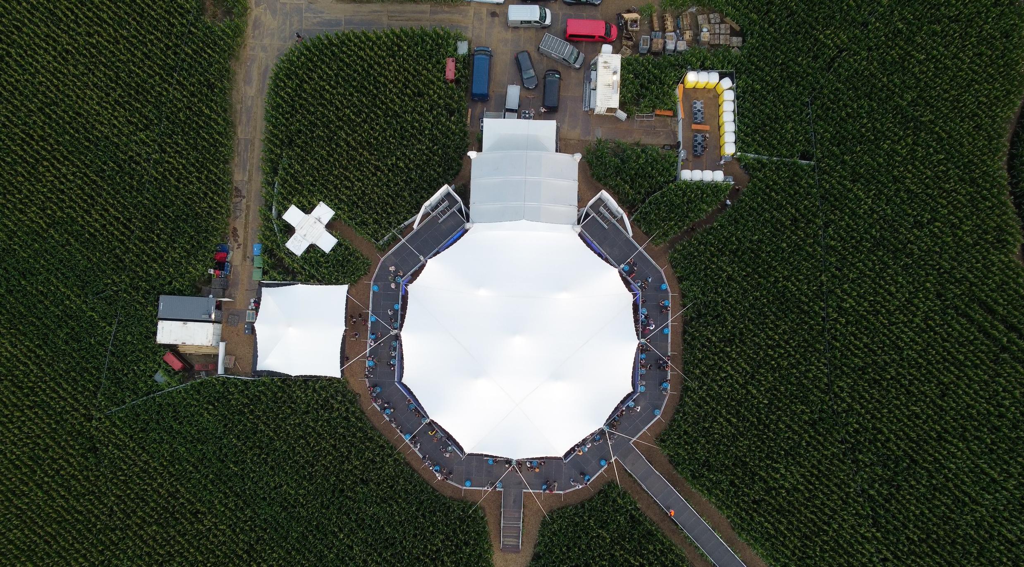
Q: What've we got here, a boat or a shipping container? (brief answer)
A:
shipping container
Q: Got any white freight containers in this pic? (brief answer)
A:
Yes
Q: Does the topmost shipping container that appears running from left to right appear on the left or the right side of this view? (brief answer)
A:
left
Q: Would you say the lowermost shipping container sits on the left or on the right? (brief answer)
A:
left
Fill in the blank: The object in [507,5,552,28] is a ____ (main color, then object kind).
white vehicle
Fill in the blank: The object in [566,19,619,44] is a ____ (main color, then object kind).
red vehicle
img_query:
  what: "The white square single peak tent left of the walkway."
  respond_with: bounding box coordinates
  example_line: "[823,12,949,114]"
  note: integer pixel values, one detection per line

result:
[252,283,353,378]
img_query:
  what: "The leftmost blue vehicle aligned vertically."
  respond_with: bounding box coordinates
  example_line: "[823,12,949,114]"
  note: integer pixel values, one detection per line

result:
[471,47,494,101]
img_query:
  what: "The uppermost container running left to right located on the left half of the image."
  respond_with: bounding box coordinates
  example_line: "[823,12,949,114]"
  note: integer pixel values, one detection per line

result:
[158,295,234,322]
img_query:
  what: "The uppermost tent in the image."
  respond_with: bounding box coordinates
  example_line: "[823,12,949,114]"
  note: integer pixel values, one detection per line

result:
[482,113,557,154]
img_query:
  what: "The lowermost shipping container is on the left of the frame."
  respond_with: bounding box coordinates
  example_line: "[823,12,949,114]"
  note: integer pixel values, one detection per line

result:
[156,320,222,346]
